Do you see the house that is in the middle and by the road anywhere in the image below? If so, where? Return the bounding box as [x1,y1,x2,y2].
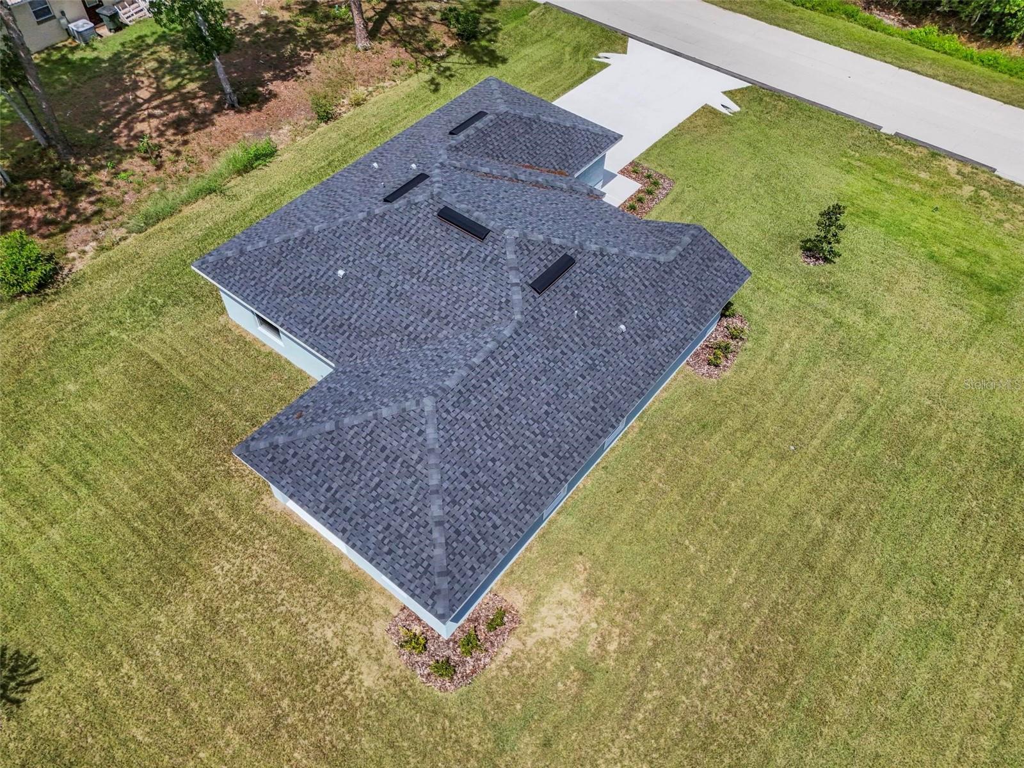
[192,76,751,639]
